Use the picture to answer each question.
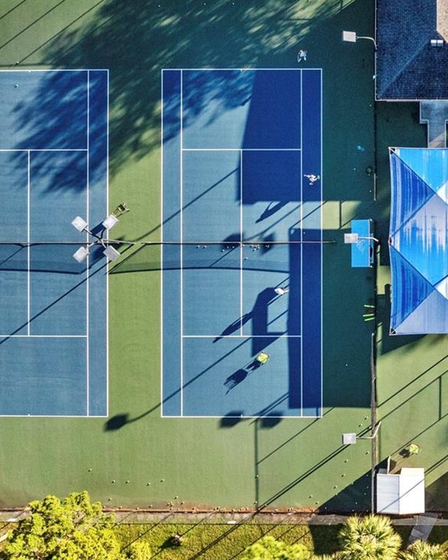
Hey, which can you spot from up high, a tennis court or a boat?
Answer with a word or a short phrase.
tennis court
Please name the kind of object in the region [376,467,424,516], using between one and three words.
shed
